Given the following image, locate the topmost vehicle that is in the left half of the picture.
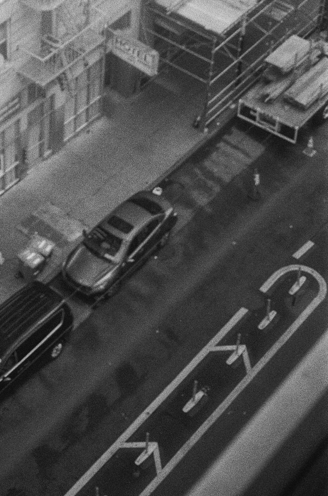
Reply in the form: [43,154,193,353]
[59,179,191,300]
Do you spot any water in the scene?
No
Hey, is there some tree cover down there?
No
